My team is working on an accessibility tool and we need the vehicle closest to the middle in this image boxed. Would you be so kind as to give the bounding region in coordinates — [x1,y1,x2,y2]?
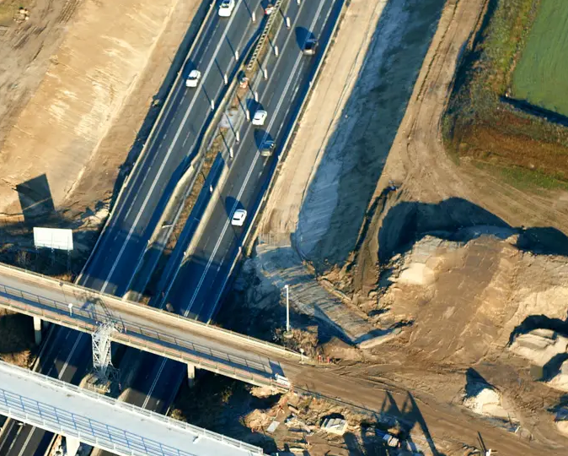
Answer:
[229,208,247,229]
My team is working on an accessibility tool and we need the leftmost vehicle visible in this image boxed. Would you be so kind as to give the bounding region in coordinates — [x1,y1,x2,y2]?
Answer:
[187,69,202,88]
